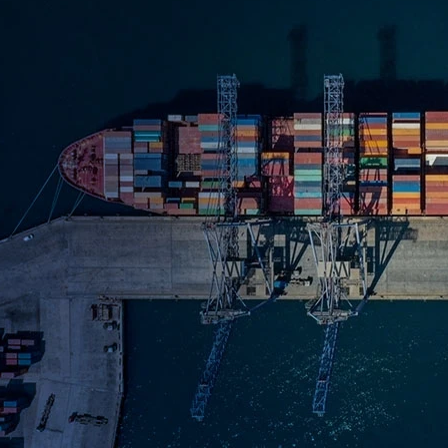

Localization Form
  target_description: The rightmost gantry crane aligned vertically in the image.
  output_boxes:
[305,74,374,423]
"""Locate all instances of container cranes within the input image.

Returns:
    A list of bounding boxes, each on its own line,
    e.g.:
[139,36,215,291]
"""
[194,74,283,423]
[305,74,374,423]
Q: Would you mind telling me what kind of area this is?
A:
port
